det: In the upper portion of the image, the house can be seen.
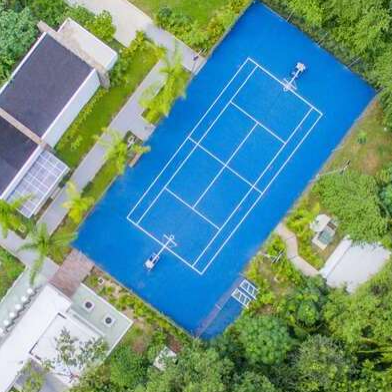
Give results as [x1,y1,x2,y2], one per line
[0,18,119,218]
